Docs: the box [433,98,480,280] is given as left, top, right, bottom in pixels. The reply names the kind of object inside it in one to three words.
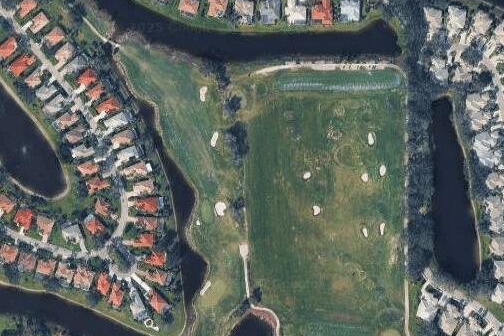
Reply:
pond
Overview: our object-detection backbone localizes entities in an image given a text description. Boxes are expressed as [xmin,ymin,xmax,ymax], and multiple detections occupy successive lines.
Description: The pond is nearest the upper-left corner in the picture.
[0,85,64,196]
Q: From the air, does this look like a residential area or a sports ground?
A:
residential area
